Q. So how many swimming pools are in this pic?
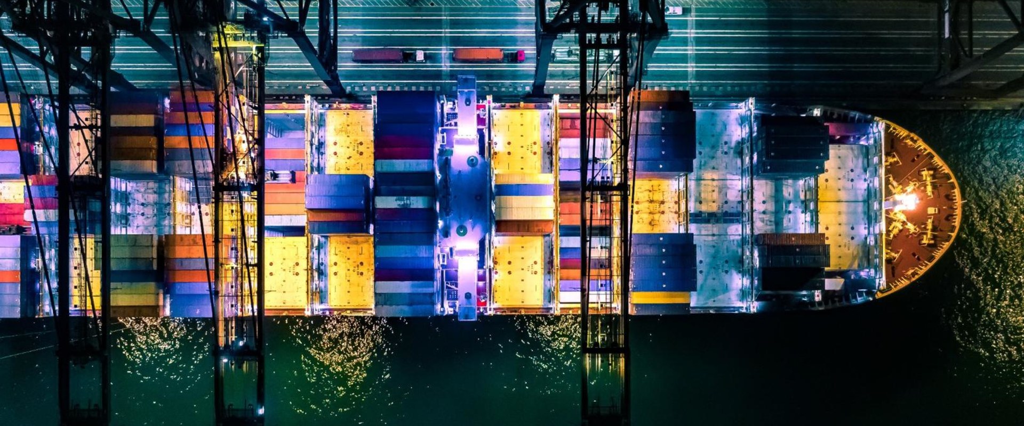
0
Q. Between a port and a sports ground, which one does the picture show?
port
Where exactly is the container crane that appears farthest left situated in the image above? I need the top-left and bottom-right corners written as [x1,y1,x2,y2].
[0,0,214,426]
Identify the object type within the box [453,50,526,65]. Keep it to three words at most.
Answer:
vehicle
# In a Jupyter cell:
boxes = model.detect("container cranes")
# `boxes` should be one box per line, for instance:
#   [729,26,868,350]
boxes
[907,0,1024,97]
[142,0,357,426]
[0,0,214,426]
[520,0,689,426]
